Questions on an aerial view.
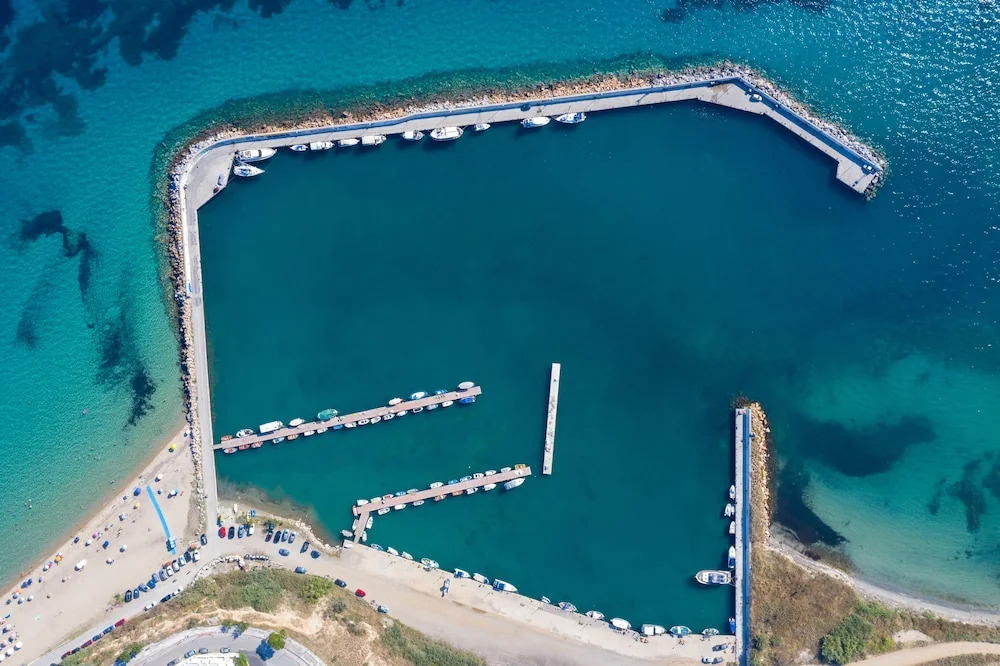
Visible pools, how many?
zero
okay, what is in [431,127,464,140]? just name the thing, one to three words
boat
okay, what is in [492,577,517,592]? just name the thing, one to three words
boat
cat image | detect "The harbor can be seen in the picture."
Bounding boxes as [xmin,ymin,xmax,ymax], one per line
[180,77,882,666]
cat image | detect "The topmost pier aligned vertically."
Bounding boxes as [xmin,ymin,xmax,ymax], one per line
[543,363,561,475]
